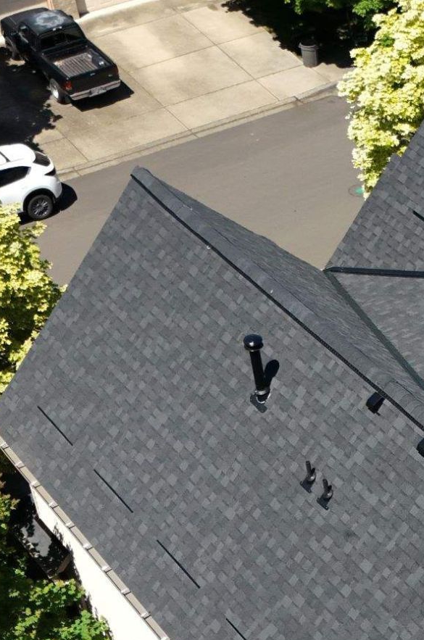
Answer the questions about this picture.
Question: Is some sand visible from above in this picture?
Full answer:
No, the picture contains no sand.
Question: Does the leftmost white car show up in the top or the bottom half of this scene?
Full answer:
You can find the leftmost white car in the top half.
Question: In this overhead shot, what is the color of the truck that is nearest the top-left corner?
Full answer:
The truck that is nearest the top-left corner looks black in the image.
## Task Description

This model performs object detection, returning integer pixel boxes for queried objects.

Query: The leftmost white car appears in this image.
[0,140,70,219]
